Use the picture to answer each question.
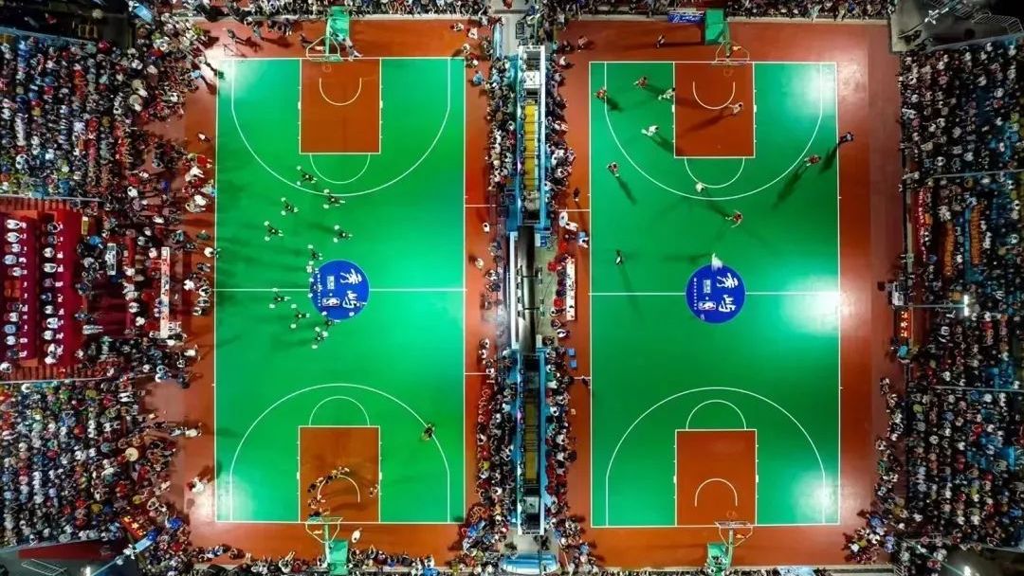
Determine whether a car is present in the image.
No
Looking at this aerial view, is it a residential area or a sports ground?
sports ground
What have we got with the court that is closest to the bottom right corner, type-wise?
basketball court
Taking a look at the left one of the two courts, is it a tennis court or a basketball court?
basketball court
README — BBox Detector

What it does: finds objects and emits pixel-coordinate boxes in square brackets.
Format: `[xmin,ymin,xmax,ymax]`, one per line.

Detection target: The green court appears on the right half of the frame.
[566,62,841,527]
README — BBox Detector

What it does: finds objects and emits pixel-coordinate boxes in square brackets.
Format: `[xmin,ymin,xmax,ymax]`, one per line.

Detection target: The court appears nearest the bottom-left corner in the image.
[214,58,497,522]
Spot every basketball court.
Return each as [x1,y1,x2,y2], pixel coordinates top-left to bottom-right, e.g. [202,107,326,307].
[214,58,497,522]
[566,62,841,527]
